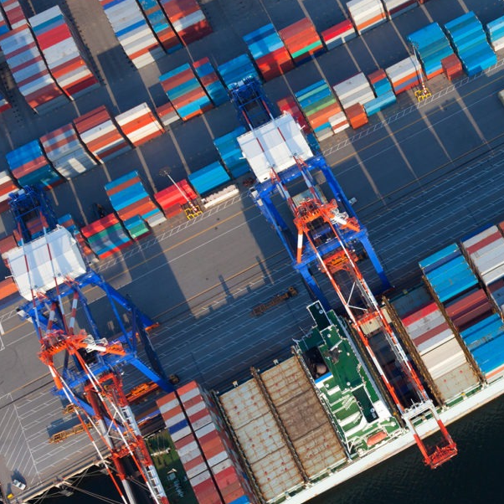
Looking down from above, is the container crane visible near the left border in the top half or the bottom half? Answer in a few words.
bottom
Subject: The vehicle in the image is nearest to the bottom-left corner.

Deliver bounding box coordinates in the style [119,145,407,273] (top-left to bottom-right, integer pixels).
[9,477,26,489]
